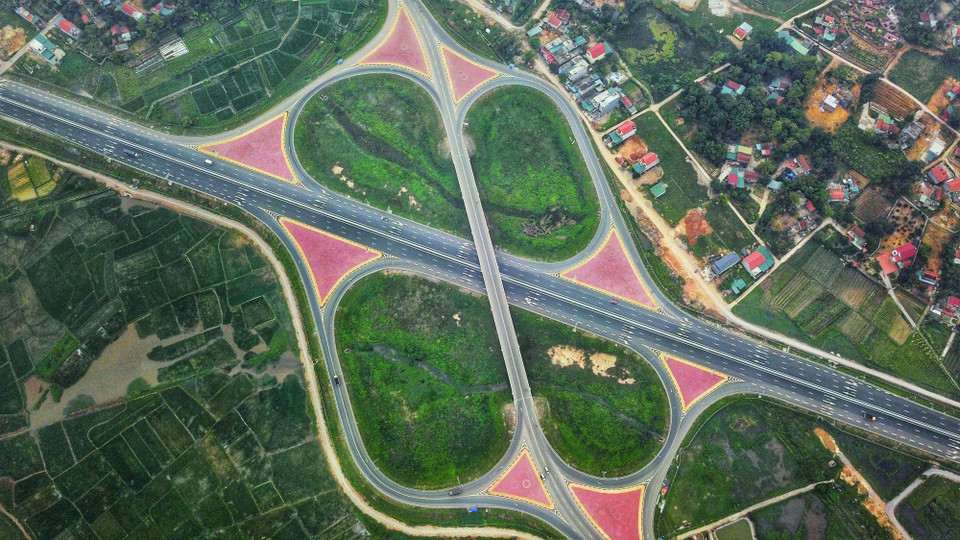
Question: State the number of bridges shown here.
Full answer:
There is 1 bridge in the image.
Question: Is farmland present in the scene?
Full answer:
Yes, there's farmland in this view.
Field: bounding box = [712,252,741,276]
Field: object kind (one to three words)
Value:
house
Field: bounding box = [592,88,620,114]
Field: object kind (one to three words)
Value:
house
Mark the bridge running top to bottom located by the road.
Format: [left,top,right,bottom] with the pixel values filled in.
[453,150,531,397]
